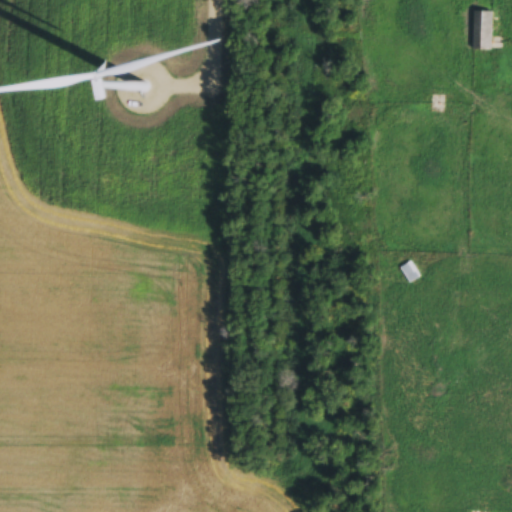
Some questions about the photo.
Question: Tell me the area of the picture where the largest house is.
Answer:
top right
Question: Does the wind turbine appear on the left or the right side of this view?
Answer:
left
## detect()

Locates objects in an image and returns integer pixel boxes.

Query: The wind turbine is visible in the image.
[0,35,220,102]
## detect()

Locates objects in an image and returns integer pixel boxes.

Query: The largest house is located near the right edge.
[472,10,494,50]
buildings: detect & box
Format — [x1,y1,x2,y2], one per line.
[472,10,494,50]
[400,260,421,283]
